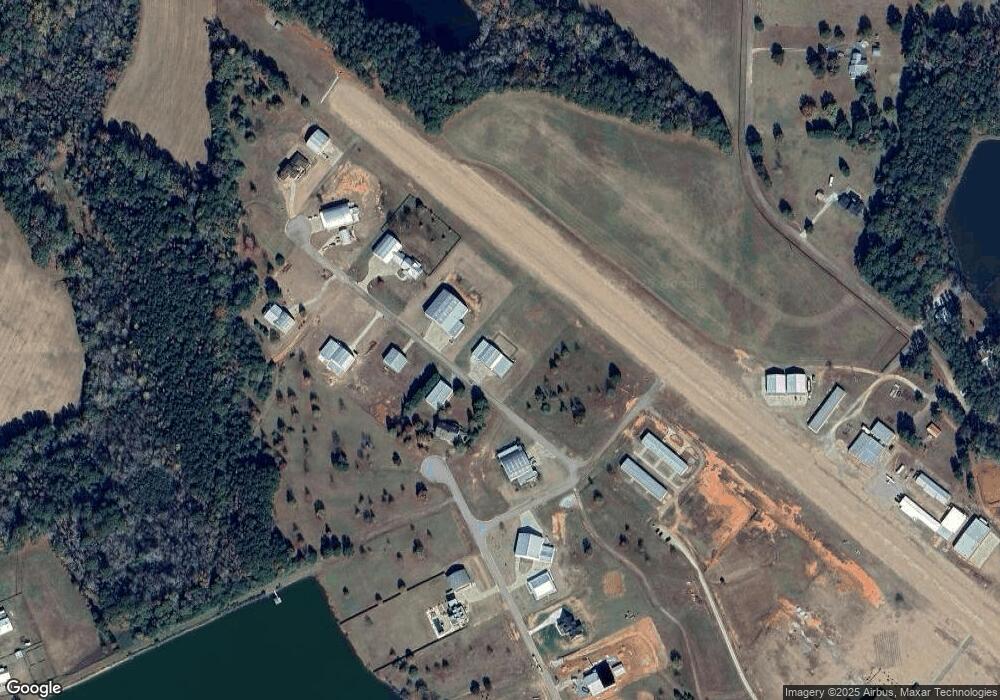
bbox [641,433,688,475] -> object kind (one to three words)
hangar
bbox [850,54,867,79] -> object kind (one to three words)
house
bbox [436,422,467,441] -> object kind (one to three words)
house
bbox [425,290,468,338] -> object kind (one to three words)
hangar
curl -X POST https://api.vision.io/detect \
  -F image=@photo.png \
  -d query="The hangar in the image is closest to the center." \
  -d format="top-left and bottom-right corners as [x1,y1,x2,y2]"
[472,340,514,379]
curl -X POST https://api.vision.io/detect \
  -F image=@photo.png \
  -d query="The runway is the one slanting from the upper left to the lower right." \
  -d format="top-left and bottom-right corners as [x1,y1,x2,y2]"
[320,75,1000,676]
